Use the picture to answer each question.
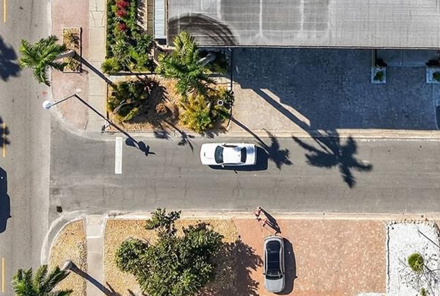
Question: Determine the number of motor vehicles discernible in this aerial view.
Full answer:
The picture shows 2 motor vehicles.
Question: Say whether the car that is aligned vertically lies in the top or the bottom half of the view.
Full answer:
The car that is aligned vertically sits in the bottom half of the picture.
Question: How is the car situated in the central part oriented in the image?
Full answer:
In this picture, the car situated in the central part lies from left to right.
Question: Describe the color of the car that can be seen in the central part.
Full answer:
From above, the car that can be seen in the central part appears white.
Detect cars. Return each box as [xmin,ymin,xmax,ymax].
[200,140,258,169]
[261,235,289,294]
